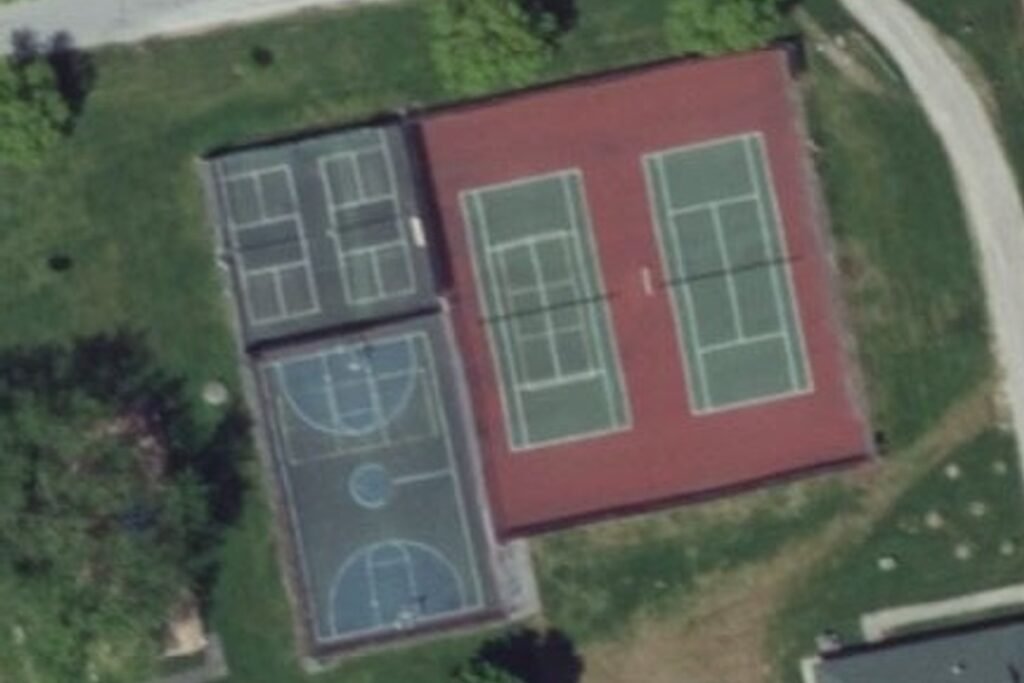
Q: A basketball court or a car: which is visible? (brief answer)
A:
basketball court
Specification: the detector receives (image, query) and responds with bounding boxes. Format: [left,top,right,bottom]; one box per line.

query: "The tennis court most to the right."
[642,133,814,415]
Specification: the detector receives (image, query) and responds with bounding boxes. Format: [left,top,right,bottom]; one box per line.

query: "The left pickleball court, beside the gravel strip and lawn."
[219,164,320,324]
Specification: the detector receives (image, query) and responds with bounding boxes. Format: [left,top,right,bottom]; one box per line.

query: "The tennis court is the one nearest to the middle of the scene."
[459,168,633,452]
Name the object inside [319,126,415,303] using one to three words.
sports court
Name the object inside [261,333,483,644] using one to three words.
basketball court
